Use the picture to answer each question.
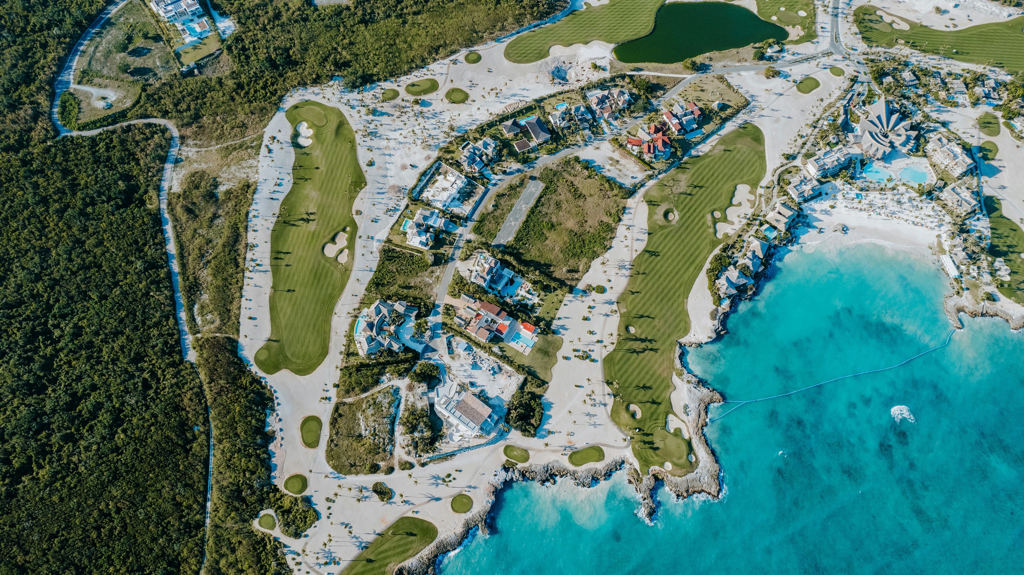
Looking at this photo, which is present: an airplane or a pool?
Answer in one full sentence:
The image shows a pool.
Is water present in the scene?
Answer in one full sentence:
Yes, there's water in this view.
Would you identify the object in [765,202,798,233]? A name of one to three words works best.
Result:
building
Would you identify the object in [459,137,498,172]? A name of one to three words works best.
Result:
house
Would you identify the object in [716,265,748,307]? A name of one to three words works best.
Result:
house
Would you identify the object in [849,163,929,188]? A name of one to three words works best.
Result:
swimming pool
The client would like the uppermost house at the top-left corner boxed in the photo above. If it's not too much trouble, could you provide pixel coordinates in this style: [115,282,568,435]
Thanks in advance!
[150,0,211,52]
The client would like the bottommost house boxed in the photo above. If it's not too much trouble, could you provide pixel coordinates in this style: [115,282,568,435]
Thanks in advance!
[436,382,498,442]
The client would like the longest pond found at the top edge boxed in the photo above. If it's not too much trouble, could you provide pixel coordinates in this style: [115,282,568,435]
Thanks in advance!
[614,2,787,63]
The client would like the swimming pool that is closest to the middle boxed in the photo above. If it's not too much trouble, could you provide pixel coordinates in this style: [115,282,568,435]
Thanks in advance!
[501,280,524,297]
